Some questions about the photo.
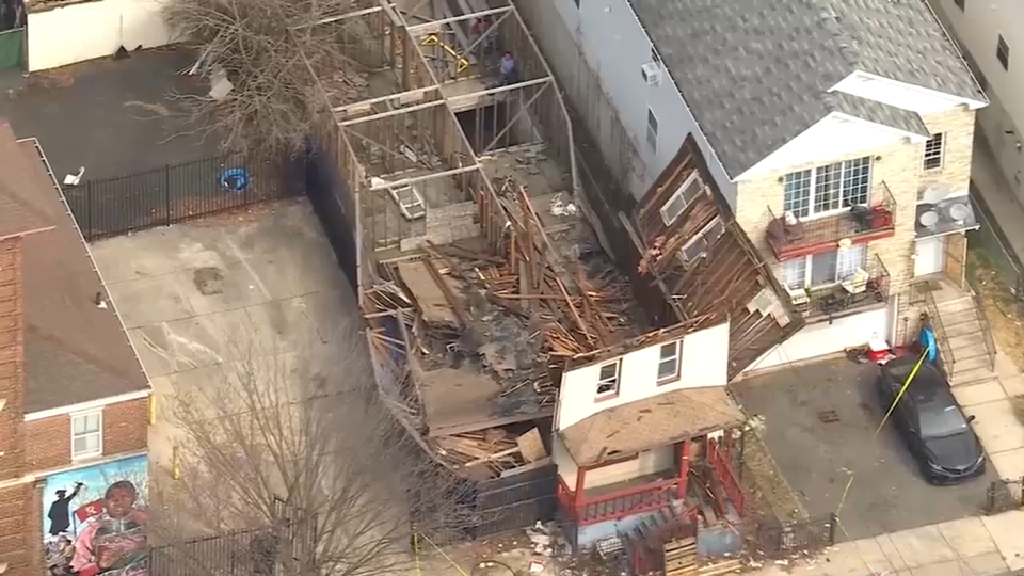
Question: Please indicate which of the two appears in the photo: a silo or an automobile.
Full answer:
Visible in the photo is an automobile.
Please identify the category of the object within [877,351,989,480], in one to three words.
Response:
car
